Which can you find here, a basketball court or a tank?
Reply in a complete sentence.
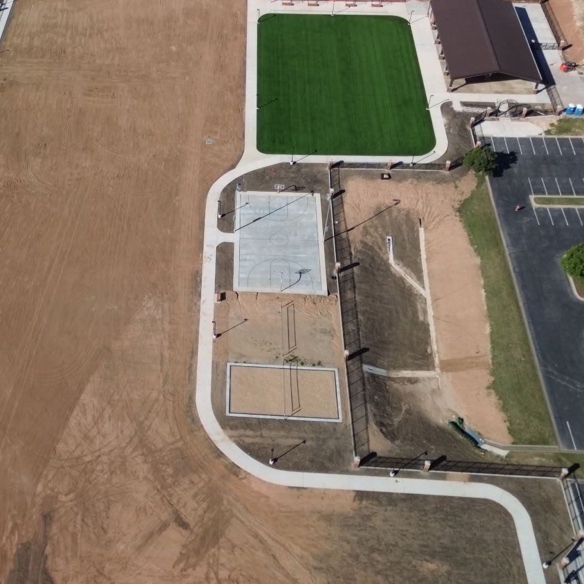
There is a basketball court in the scene.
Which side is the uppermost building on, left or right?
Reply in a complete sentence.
It is on the right.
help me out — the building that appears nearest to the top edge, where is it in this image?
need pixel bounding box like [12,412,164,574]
[426,0,541,91]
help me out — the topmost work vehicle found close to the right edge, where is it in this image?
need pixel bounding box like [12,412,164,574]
[559,56,584,71]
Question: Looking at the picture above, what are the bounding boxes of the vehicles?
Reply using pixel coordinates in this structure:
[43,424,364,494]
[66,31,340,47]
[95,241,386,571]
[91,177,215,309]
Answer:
[446,417,465,429]
[559,56,584,71]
